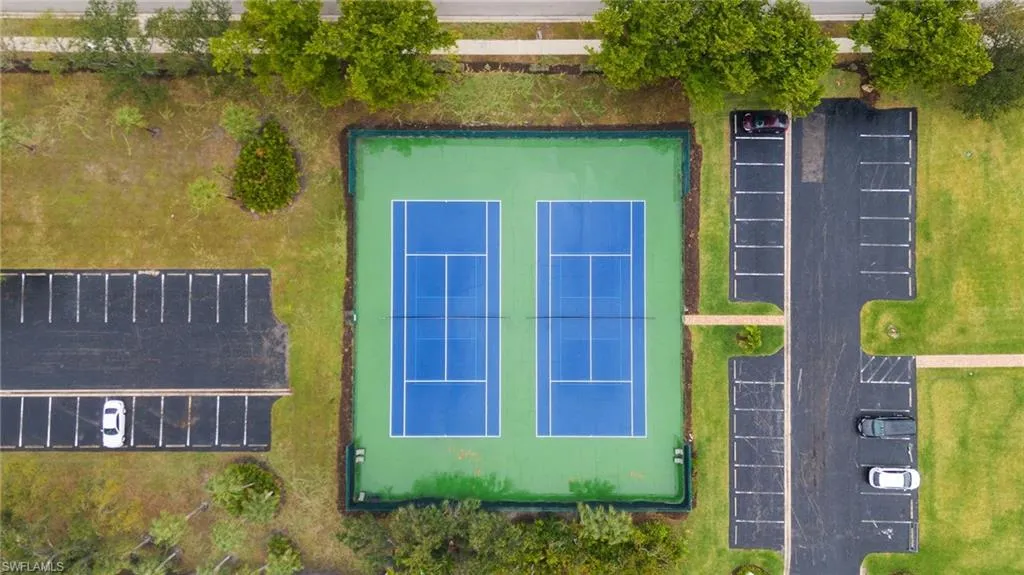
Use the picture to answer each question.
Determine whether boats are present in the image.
No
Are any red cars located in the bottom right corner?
No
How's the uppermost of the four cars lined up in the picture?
horizontally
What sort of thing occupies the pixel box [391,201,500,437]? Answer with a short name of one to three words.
tennis court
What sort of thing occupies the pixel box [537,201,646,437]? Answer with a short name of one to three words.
tennis court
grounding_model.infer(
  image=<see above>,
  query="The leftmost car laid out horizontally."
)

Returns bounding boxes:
[743,111,789,132]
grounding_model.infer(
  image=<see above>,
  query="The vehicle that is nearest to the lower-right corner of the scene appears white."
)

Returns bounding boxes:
[868,467,920,491]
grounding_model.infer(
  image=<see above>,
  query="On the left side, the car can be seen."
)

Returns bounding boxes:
[102,399,128,448]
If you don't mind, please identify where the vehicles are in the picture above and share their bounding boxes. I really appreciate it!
[102,399,128,448]
[868,467,920,491]
[856,414,915,438]
[743,111,789,132]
